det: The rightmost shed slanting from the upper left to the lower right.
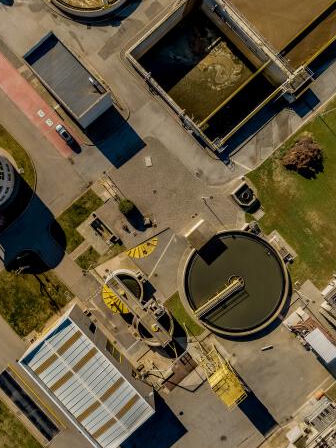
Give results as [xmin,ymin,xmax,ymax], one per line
[296,320,336,364]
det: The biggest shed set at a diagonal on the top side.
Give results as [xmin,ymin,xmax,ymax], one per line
[24,32,113,127]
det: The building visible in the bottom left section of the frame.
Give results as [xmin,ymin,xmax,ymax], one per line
[19,304,156,448]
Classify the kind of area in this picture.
industrial area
